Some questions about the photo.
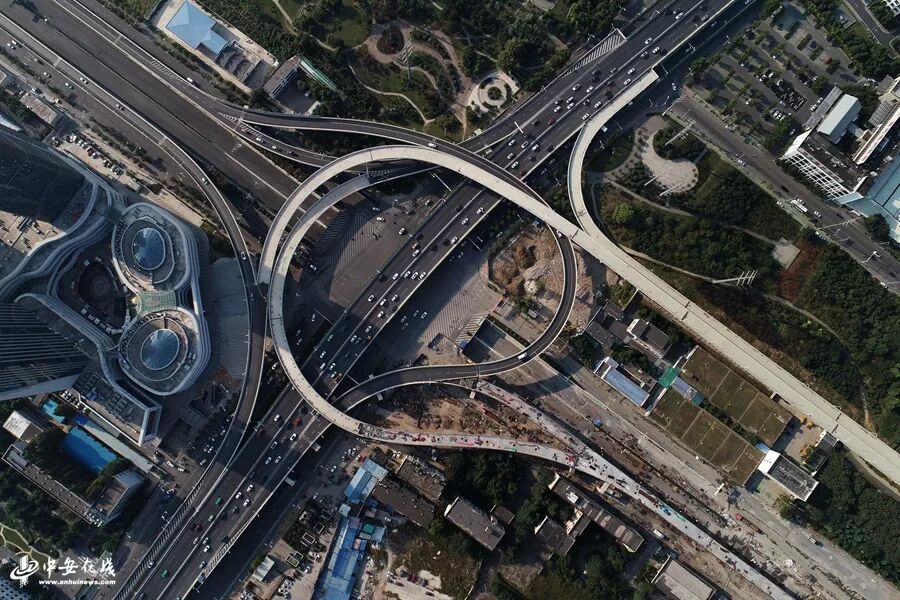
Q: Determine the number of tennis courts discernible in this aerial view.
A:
0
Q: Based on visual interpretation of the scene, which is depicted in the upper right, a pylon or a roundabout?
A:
pylon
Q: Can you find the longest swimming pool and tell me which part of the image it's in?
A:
bottom left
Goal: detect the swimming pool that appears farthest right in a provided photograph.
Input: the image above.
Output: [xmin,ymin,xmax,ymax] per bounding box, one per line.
[62,427,118,474]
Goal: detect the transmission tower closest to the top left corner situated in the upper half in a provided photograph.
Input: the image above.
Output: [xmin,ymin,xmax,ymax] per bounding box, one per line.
[396,51,414,83]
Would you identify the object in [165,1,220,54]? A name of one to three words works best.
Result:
building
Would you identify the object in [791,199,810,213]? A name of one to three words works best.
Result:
vehicle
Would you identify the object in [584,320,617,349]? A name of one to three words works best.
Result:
house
